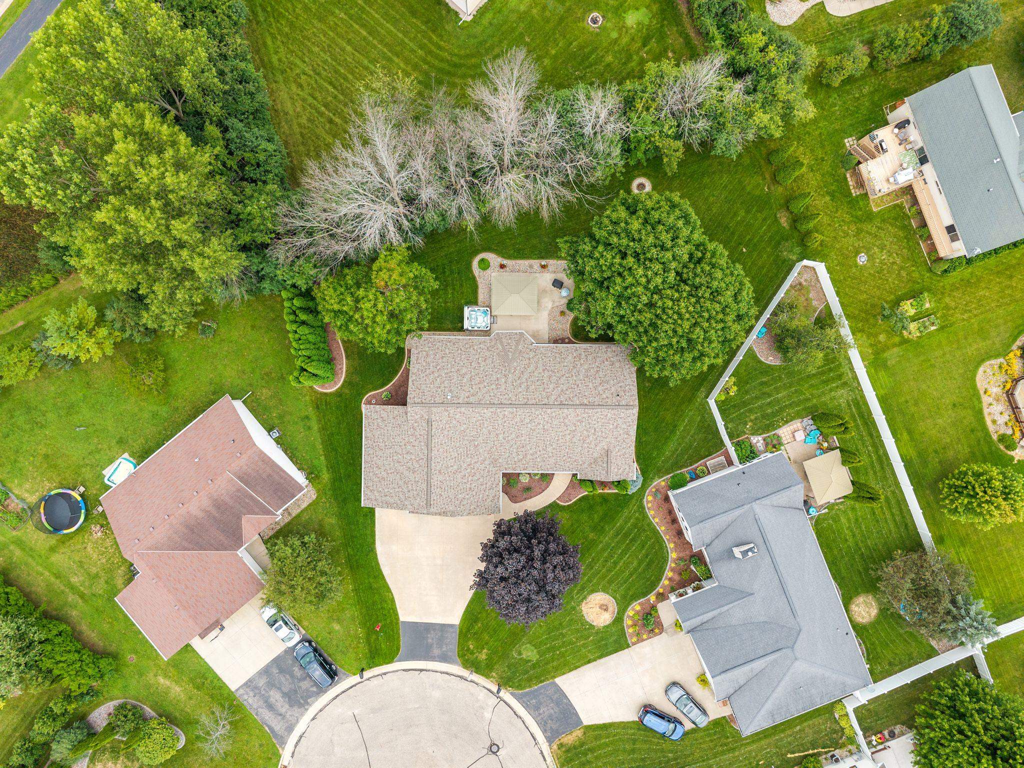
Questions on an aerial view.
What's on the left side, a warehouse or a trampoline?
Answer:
trampoline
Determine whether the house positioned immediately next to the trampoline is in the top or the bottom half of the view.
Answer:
bottom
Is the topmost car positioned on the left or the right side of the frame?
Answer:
left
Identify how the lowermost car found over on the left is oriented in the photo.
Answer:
at an angle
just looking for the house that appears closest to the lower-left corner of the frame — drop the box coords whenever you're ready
[98,393,308,661]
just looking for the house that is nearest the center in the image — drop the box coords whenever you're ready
[361,329,638,517]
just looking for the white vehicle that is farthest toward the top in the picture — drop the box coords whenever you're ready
[260,602,303,652]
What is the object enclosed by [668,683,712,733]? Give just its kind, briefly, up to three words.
car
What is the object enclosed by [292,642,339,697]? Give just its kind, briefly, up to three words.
car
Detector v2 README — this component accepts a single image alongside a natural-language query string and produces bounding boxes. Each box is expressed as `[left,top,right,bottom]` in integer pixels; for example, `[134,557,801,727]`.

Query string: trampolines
[30,487,97,537]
